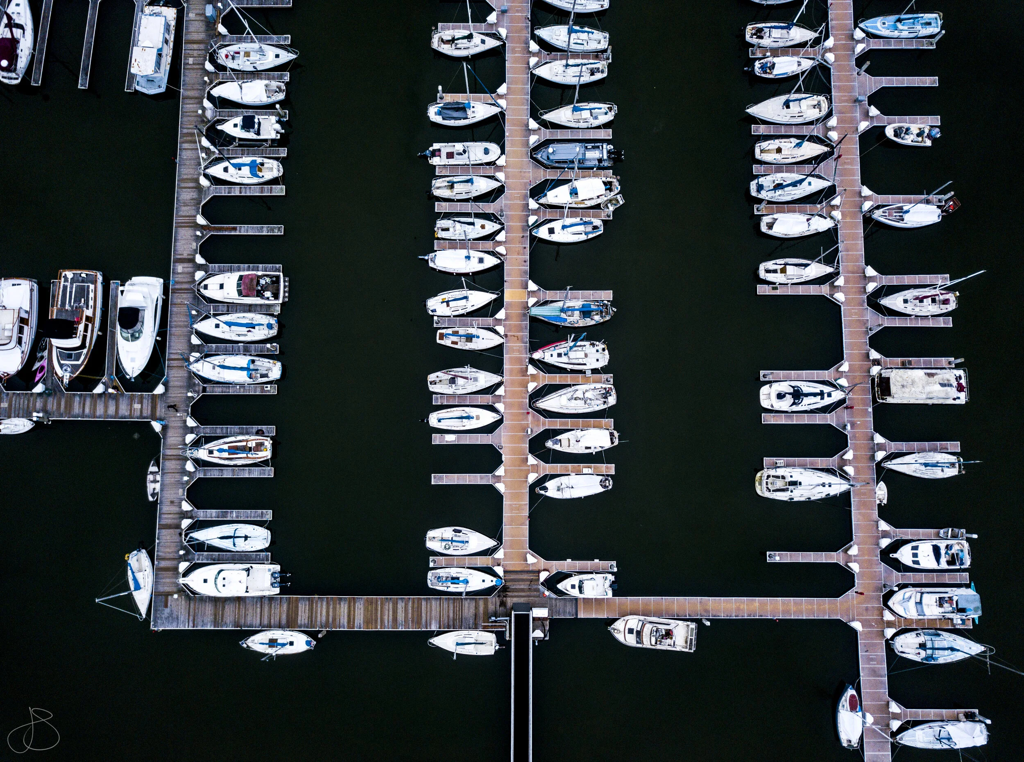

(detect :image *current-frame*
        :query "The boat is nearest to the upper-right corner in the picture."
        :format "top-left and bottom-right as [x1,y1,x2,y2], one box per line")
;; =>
[853,0,945,38]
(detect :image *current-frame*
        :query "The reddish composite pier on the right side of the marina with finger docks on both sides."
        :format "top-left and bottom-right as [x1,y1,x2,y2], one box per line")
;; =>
[748,0,979,762]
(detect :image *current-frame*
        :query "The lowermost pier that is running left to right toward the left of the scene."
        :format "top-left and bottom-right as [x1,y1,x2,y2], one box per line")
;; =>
[150,571,578,640]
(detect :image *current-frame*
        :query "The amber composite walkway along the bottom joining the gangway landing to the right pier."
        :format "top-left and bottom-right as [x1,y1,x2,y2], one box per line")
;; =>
[578,586,859,631]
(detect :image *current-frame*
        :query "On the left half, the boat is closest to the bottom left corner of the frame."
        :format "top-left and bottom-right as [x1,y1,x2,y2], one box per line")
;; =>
[95,544,159,621]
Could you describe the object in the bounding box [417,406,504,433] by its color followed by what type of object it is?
white boat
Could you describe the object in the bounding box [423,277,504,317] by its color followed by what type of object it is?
white boat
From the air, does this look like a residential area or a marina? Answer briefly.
marina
